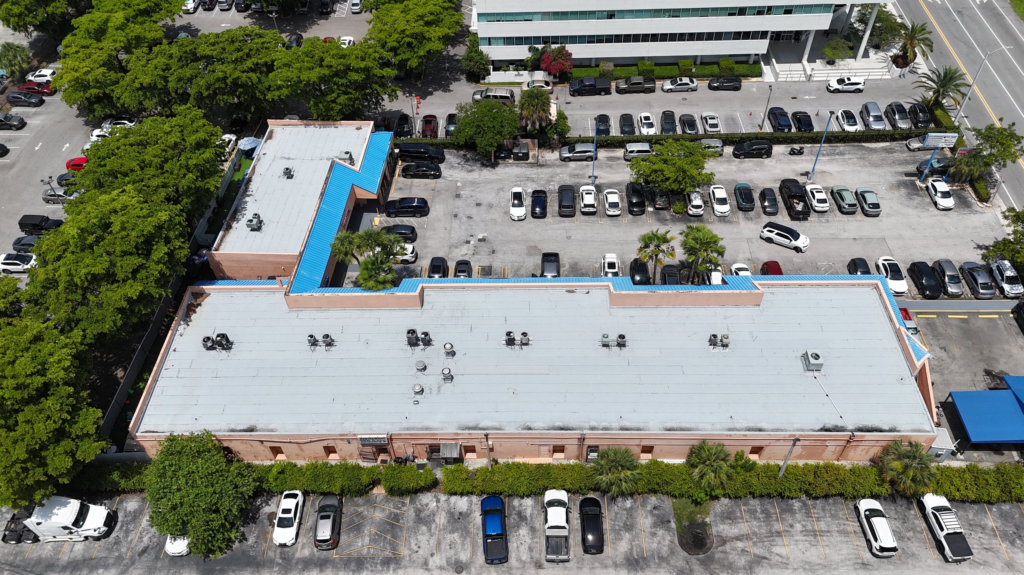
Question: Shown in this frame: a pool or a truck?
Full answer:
There is a truck in the scene.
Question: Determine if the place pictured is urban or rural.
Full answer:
The area is urban.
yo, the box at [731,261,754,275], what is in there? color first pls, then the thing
white car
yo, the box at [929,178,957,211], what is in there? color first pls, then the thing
white car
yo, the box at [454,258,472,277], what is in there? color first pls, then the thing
black car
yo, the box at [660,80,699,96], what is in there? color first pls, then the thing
gray car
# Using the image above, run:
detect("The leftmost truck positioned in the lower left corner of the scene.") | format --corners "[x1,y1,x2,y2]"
[2,495,122,545]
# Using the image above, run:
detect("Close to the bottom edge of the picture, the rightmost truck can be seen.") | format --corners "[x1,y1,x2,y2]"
[920,491,978,566]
